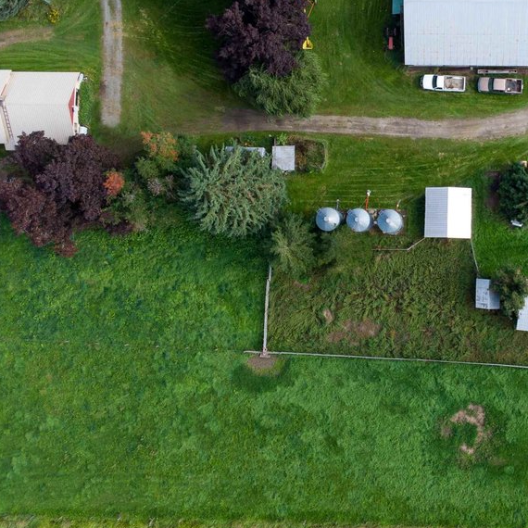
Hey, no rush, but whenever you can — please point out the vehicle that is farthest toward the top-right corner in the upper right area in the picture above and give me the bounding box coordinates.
[477,75,523,95]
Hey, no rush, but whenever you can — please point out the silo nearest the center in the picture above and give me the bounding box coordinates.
[316,207,344,232]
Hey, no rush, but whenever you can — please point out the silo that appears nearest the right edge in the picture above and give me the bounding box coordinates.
[377,208,403,233]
